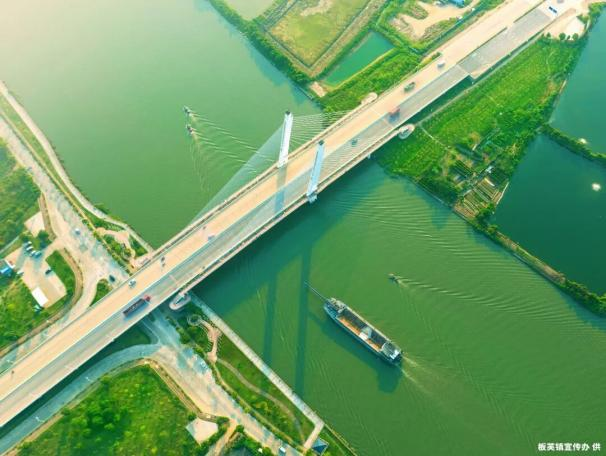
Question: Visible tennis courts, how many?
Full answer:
There are no tennis courts in the image.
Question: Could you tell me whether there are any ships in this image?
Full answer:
Yes, the photo shows a ship.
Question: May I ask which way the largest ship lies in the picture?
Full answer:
The largest ship has been laid out diagonally relative to the frame.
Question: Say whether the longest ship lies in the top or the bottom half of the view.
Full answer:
The bottom half of the photo is where the longest ship is.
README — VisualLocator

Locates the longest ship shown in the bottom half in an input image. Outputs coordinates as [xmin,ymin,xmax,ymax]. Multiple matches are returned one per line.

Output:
[302,278,403,364]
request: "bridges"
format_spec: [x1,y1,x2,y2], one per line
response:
[0,57,465,426]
